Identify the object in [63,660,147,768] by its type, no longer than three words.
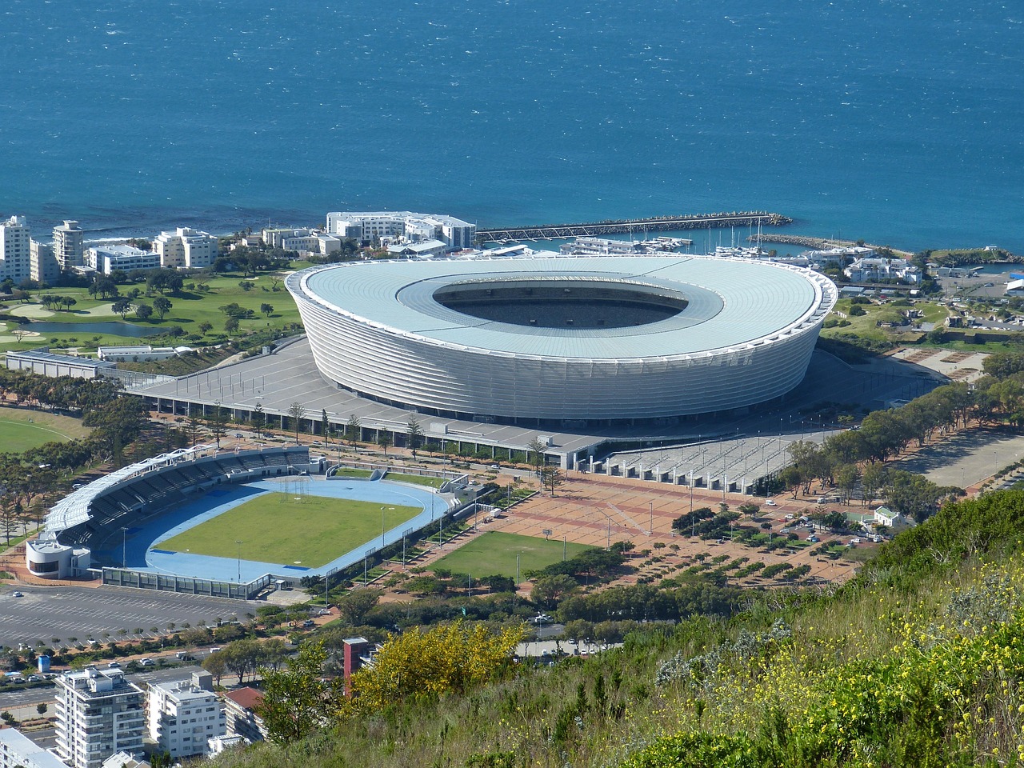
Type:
building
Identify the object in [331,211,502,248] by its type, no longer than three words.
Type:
building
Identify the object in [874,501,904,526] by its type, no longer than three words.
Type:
house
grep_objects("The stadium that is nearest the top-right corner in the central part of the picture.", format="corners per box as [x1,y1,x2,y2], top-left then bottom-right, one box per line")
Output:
[284,254,839,429]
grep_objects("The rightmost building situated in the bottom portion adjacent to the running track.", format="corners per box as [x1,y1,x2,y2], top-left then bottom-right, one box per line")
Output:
[454,484,481,501]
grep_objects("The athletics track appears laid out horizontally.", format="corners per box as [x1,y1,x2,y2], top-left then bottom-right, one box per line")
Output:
[94,477,459,589]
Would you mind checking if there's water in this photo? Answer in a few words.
Yes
